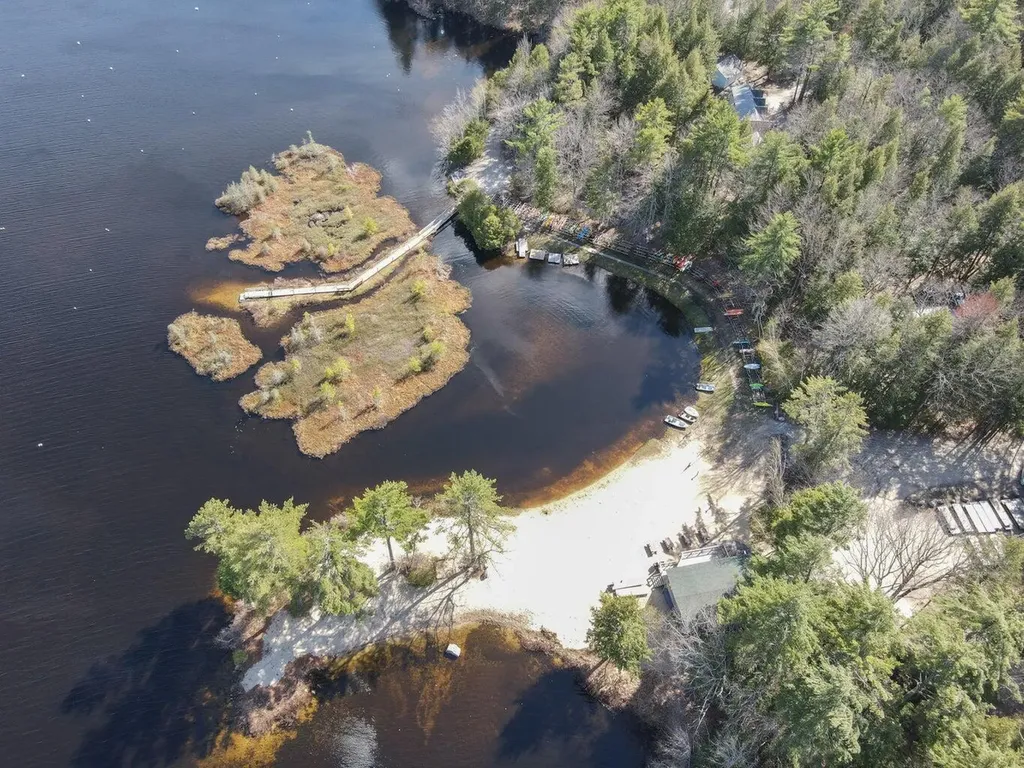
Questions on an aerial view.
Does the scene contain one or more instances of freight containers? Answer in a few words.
No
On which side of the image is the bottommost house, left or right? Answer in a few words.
right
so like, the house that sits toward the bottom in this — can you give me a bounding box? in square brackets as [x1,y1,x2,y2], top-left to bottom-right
[642,542,761,625]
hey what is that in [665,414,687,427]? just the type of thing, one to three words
boat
